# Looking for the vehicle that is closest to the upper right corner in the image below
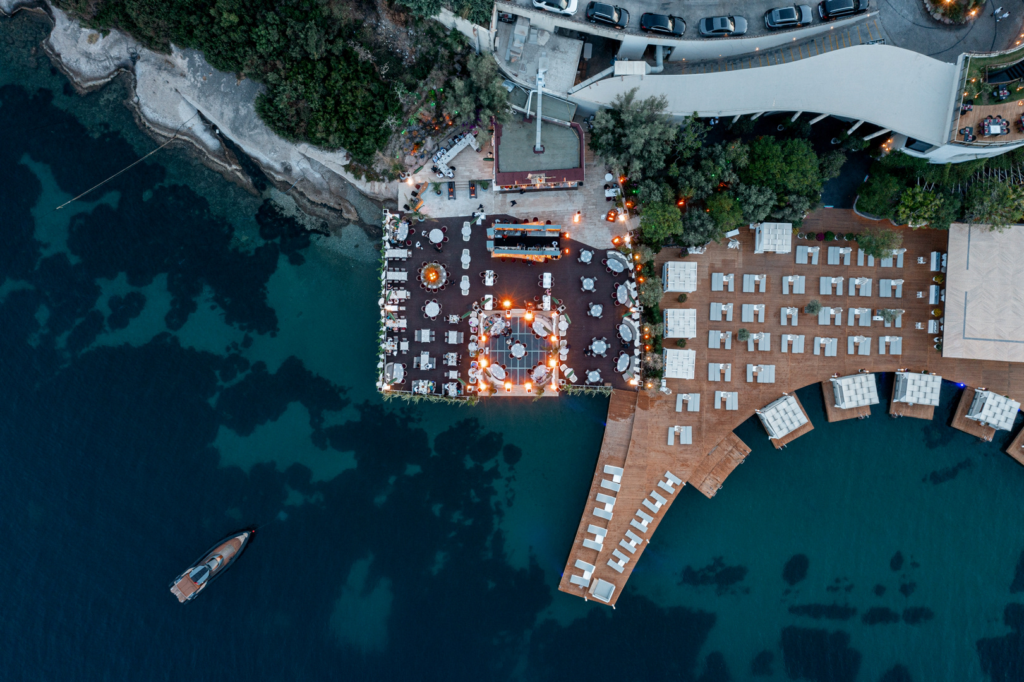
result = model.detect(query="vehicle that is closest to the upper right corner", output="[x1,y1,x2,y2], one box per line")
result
[814,0,868,24]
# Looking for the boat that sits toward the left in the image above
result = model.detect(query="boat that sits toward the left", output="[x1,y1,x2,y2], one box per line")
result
[164,531,253,604]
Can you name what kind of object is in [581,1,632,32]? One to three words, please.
car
